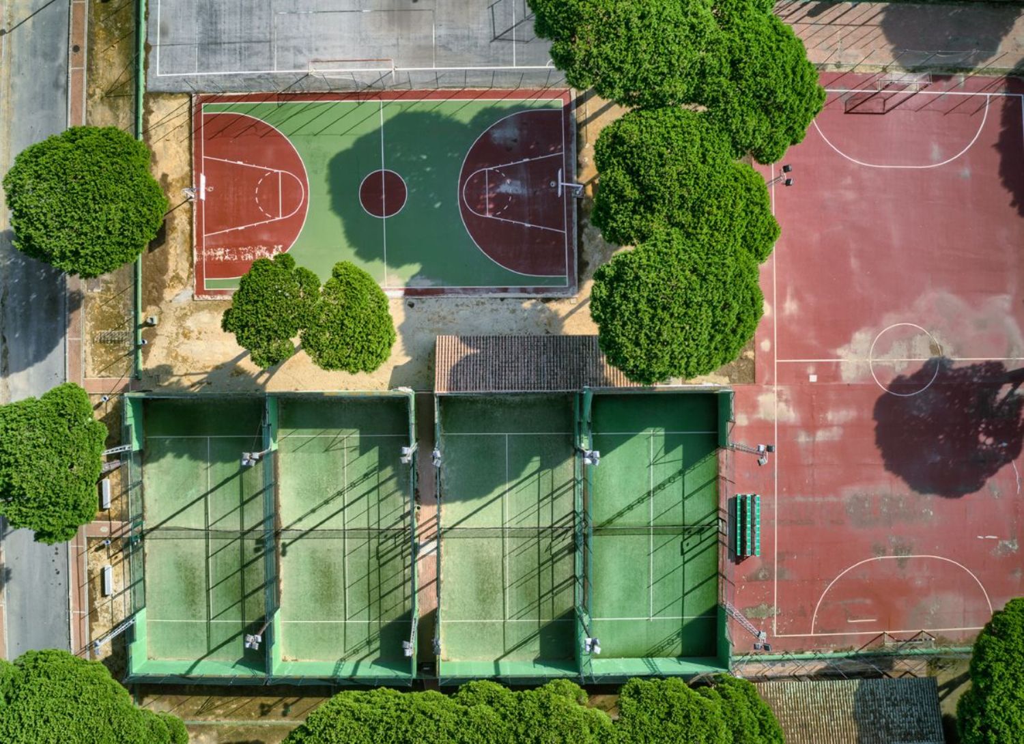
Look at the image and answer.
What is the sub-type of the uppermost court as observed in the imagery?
basketball court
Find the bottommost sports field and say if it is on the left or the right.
right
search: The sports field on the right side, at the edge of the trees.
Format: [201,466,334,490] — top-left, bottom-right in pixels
[730,71,1024,658]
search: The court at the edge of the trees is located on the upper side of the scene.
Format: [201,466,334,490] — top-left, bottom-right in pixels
[194,88,578,300]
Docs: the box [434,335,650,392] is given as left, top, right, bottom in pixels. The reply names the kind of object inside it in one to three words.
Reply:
building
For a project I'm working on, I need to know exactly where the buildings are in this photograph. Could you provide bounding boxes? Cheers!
[749,676,950,744]
[434,335,650,392]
